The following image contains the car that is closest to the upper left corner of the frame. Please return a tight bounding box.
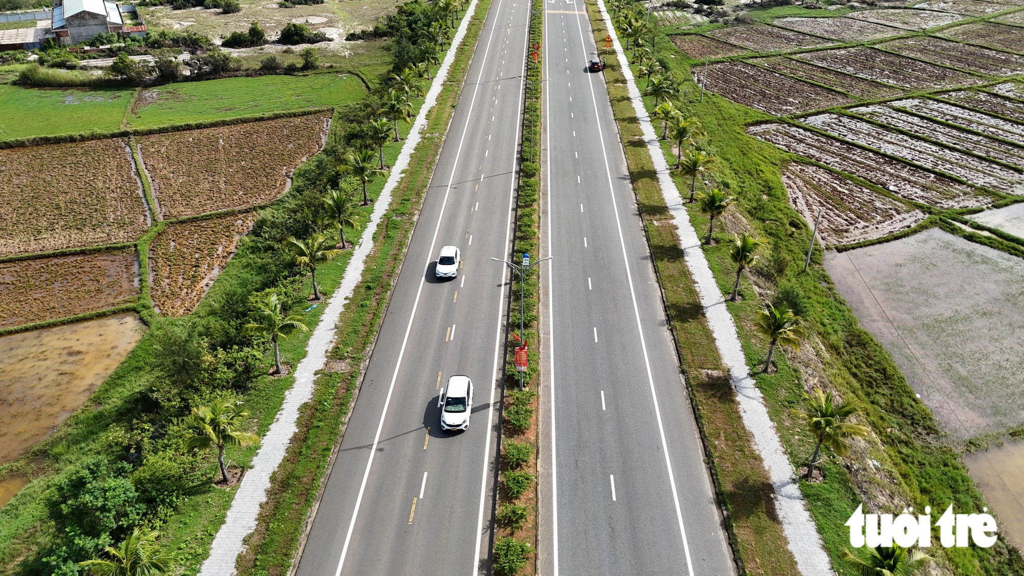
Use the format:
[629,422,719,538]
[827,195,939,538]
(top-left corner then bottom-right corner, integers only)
[434,245,461,279]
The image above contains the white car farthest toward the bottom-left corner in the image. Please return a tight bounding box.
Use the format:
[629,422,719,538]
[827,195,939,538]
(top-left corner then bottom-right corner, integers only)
[438,376,473,432]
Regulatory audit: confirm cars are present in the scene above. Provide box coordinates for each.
[434,245,461,279]
[590,58,603,69]
[438,376,473,432]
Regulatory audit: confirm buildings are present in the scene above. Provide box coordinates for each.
[0,28,42,47]
[44,0,131,43]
